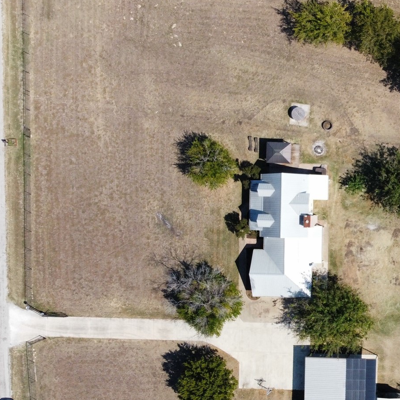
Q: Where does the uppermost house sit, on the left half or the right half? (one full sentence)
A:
The uppermost house is on the right side of the image.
